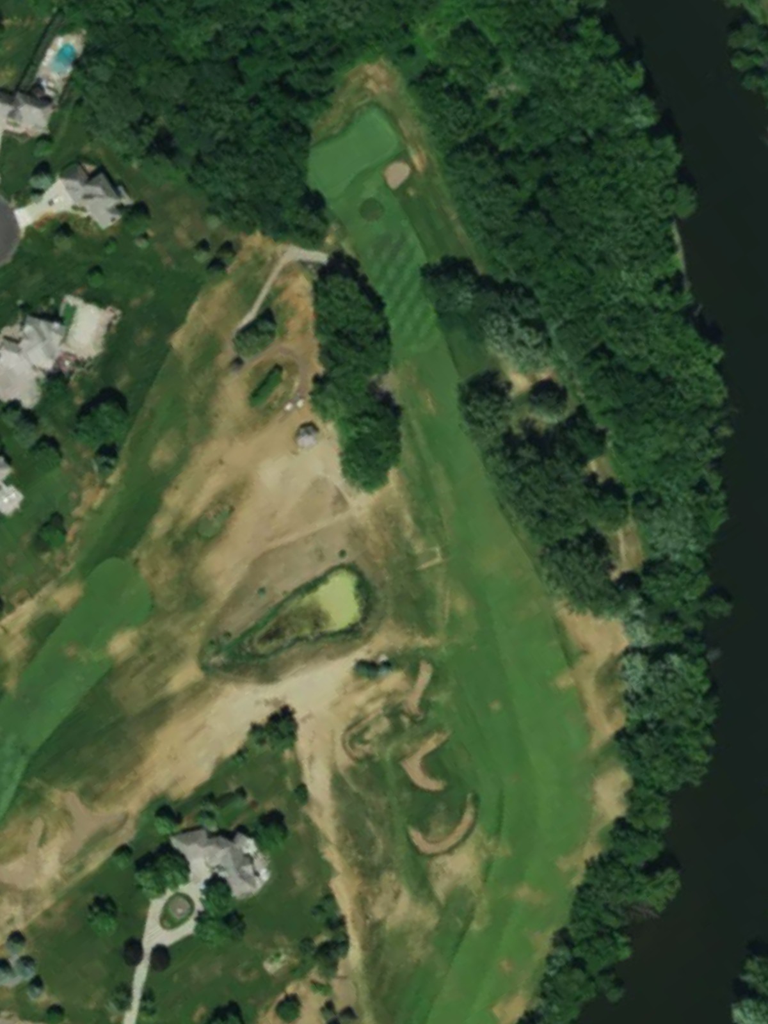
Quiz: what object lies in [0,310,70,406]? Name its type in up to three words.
house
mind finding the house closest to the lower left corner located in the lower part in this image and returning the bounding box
[169,829,260,900]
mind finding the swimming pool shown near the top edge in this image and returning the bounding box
[52,42,76,72]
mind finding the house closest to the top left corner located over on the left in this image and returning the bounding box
[0,87,53,137]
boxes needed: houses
[57,162,124,230]
[169,829,260,900]
[0,87,53,137]
[0,465,25,516]
[0,310,70,406]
